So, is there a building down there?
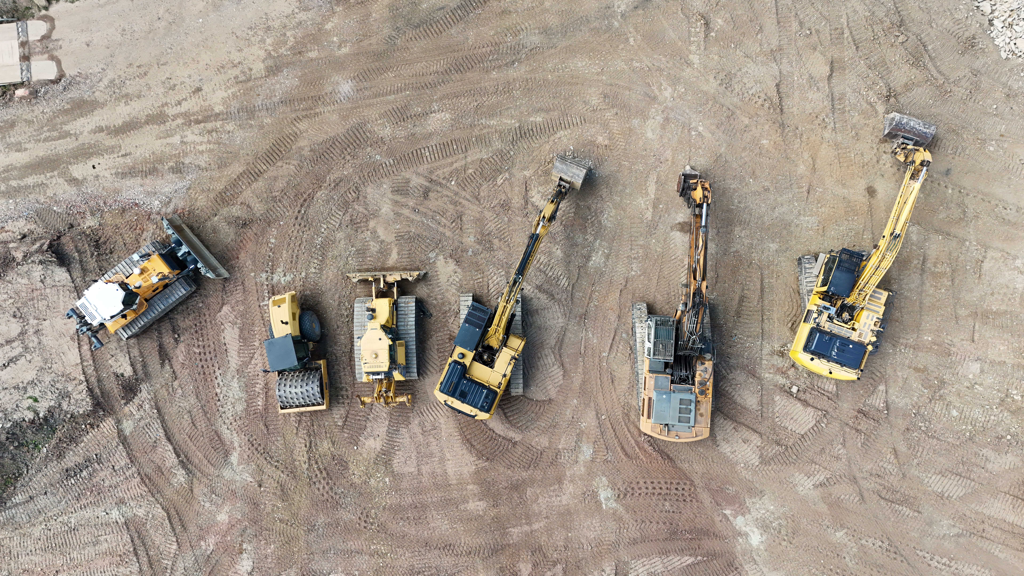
No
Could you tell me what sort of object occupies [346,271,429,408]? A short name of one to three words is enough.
work vehicle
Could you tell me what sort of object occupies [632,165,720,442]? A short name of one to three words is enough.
work vehicle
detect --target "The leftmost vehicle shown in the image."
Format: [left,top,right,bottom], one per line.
[63,216,232,350]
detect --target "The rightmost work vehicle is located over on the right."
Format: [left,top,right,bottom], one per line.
[789,113,936,380]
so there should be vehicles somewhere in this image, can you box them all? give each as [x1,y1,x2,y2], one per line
[346,271,429,408]
[63,216,232,350]
[260,291,332,413]
[434,154,591,419]
[789,113,936,380]
[632,165,720,442]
